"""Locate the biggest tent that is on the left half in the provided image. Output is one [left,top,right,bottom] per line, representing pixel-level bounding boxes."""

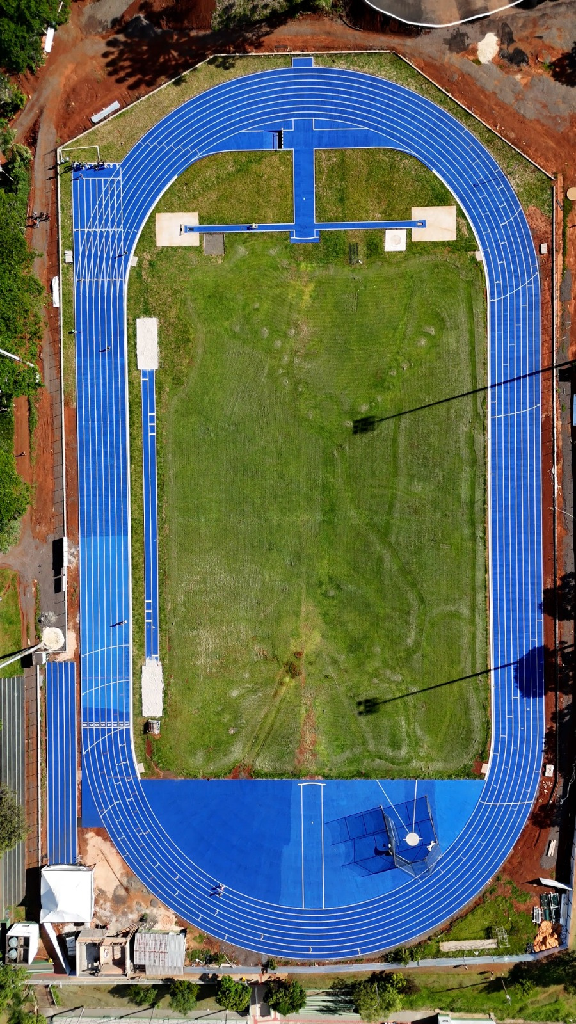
[42,859,97,919]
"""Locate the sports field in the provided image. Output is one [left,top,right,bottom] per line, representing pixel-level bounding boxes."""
[129,148,493,778]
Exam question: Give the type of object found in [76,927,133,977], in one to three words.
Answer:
building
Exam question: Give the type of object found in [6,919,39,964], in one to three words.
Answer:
house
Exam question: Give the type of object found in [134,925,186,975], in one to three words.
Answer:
shed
